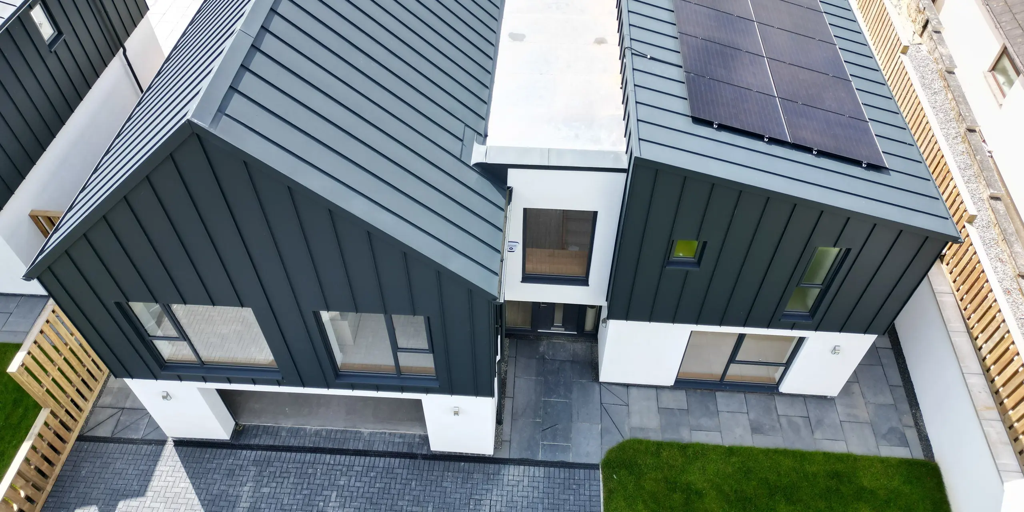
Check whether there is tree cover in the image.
No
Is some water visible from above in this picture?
No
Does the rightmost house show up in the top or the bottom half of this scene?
top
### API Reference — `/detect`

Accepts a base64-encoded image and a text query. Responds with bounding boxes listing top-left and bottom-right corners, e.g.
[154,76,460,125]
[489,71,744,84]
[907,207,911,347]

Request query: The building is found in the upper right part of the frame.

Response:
[930,0,1024,199]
